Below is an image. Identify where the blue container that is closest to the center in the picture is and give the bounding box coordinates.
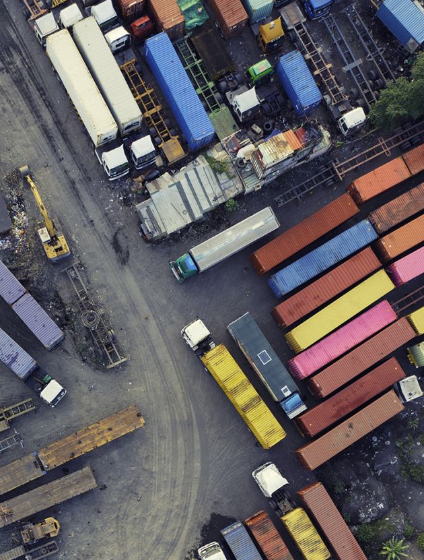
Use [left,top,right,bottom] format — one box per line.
[265,219,377,301]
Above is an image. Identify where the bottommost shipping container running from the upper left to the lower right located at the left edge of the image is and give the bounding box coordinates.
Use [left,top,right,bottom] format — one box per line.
[0,328,39,382]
